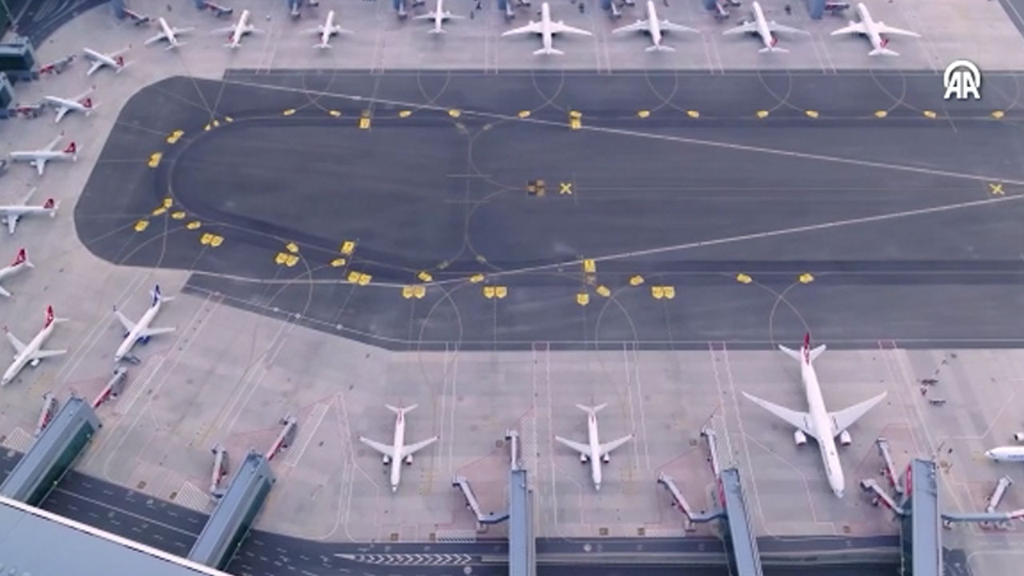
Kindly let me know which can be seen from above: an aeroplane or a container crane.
aeroplane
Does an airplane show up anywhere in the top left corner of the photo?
Yes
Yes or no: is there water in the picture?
No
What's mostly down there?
paved ground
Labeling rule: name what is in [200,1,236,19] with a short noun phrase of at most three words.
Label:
jet bridge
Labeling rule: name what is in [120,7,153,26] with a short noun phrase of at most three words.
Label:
jet bridge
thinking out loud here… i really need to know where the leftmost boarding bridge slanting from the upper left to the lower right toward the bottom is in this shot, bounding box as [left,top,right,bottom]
[451,478,510,527]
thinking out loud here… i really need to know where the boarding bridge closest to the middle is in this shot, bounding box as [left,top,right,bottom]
[504,431,520,475]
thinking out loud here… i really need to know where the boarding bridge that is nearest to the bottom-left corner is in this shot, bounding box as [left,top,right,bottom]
[33,392,58,439]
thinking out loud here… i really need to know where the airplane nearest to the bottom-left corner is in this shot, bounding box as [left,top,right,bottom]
[1,310,68,385]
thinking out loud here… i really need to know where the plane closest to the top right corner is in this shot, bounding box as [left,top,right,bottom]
[831,1,923,53]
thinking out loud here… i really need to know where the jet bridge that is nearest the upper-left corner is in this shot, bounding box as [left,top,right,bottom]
[31,54,80,79]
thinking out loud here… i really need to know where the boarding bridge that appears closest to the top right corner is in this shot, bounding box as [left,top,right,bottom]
[825,5,852,17]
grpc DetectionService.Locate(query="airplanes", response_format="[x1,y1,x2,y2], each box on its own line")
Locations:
[743,340,886,498]
[44,86,98,122]
[613,0,702,50]
[299,10,353,47]
[723,0,813,51]
[0,253,34,299]
[831,1,923,53]
[984,446,1024,460]
[554,401,635,491]
[210,10,264,46]
[83,45,129,75]
[143,17,196,51]
[113,291,175,362]
[503,1,592,53]
[1,310,68,385]
[412,0,464,32]
[11,130,79,175]
[0,183,62,233]
[357,404,438,493]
